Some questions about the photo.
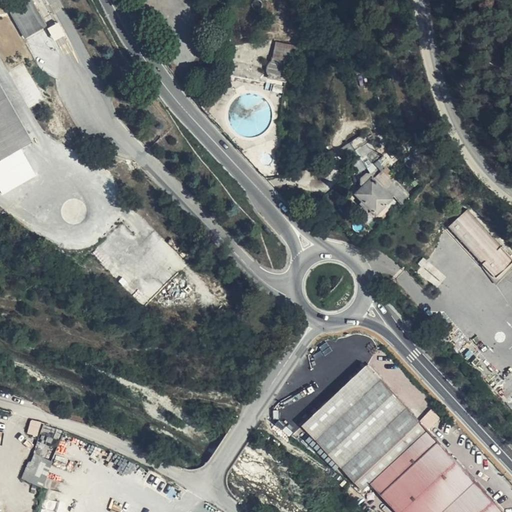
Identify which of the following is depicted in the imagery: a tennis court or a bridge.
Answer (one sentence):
There is a bridge in the scene.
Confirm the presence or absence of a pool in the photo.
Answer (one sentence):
Yes, there's a pool down there.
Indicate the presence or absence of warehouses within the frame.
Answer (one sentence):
Yes, I can see a warehouse in this picture.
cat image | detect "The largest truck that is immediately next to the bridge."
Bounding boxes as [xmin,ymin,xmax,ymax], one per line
[273,387,312,410]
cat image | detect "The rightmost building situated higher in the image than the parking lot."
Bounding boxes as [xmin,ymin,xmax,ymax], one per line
[449,210,512,277]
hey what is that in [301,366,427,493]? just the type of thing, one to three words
warehouse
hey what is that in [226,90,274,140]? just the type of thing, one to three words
swimming pool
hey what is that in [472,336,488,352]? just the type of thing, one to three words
vehicle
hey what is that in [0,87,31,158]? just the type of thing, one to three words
building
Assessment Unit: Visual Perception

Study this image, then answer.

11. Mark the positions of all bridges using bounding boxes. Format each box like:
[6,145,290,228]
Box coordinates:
[180,407,264,504]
